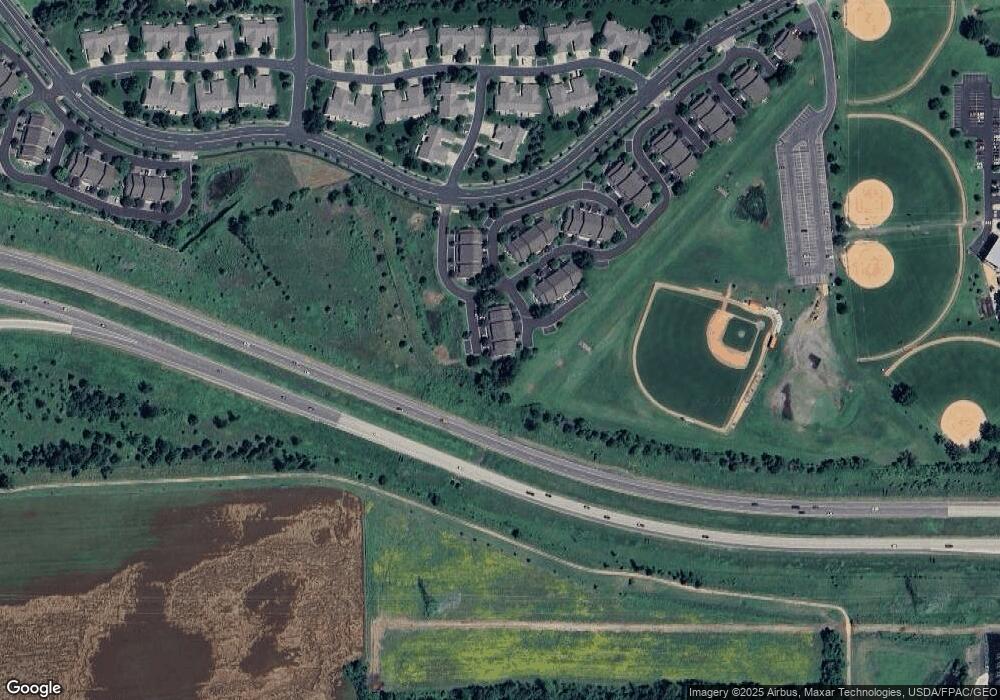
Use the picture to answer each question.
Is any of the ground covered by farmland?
Yes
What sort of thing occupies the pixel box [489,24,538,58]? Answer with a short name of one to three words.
house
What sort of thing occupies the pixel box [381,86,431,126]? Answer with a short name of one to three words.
house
